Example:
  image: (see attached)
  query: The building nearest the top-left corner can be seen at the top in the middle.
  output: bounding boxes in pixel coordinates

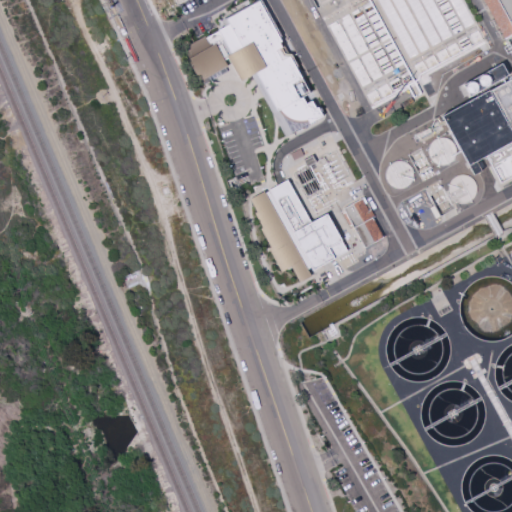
[188,37,229,83]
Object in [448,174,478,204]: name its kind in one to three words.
storage tank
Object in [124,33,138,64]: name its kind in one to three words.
vehicle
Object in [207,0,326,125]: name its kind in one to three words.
building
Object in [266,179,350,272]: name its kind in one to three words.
building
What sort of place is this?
industrial area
